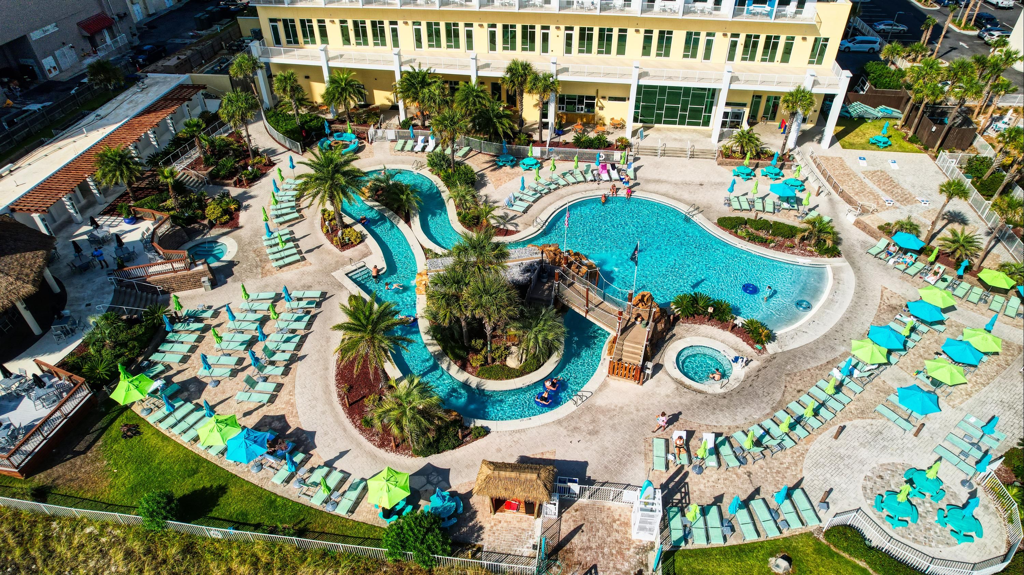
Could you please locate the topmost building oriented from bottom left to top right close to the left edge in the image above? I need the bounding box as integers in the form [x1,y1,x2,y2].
[0,72,211,246]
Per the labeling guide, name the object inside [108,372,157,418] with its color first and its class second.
green umbrella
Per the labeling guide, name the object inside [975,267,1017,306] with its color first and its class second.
green umbrella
